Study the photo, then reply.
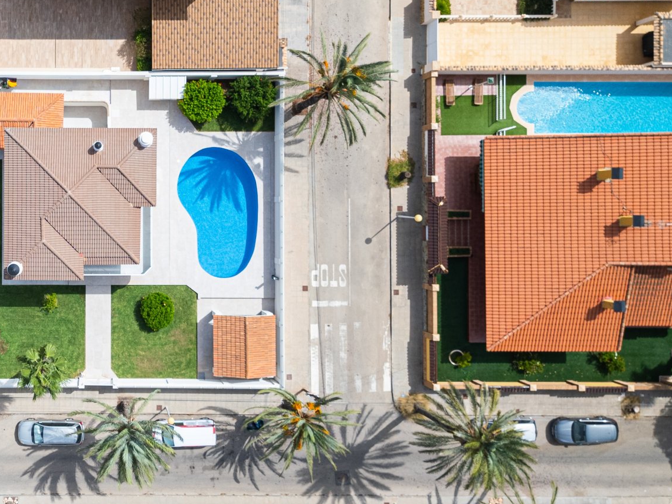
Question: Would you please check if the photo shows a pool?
Yes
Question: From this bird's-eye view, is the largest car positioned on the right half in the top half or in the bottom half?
bottom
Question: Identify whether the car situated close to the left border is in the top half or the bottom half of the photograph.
bottom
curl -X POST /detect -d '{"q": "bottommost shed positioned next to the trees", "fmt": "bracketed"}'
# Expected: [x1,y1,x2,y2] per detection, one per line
[198,306,277,380]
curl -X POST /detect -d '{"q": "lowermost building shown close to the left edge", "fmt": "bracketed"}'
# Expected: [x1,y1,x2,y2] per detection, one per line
[1,125,158,285]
